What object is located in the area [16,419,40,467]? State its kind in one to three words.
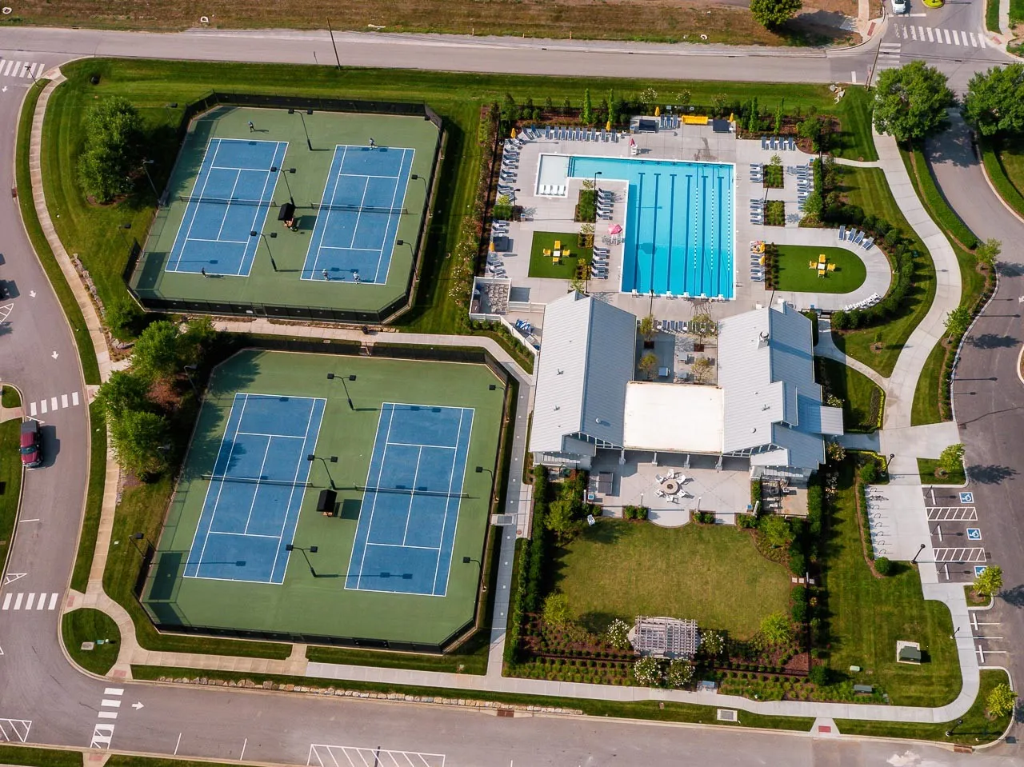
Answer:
truck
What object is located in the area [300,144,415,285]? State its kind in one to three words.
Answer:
tennis court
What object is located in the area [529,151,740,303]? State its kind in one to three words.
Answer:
swimming pool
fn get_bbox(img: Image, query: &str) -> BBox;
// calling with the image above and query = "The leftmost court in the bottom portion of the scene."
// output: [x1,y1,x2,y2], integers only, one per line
[183,393,326,585]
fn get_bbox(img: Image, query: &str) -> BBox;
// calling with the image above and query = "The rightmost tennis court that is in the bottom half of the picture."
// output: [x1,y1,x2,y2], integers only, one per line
[344,402,475,597]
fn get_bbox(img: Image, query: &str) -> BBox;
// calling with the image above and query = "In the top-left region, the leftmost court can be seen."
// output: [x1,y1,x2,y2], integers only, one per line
[165,138,289,276]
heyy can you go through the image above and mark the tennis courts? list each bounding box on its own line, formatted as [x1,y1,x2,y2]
[300,144,415,285]
[344,402,475,597]
[165,138,289,276]
[183,393,326,585]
